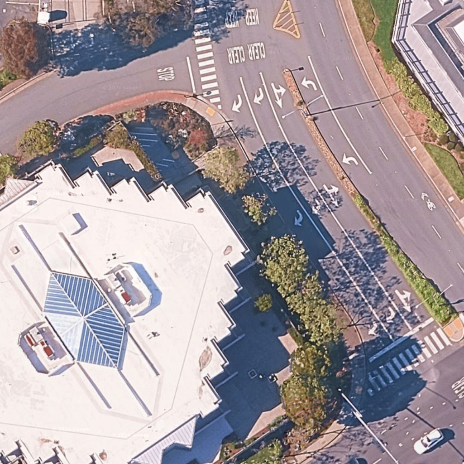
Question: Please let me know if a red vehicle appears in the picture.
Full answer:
No, there's no red vehicle here.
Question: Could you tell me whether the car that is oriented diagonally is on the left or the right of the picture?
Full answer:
The car that is oriented diagonally sits on the right side.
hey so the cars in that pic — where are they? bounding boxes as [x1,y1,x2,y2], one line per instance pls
[413,428,445,455]
[342,455,362,464]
